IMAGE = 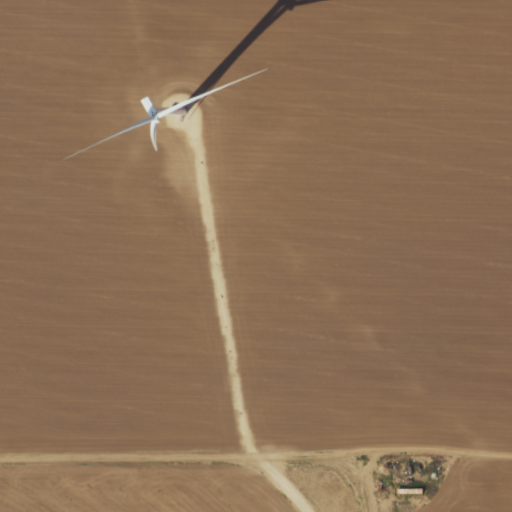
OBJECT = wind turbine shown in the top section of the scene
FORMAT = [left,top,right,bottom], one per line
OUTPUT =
[64,68,268,159]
